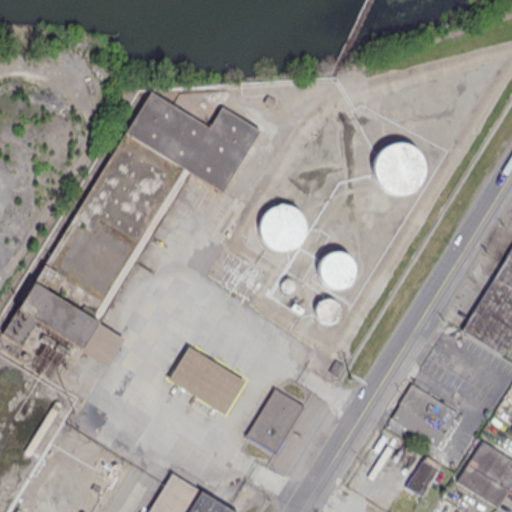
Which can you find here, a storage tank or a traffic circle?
storage tank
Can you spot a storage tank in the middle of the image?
Yes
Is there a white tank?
Yes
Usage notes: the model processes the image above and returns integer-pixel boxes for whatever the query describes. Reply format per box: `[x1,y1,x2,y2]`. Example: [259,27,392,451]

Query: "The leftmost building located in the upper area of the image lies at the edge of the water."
[131,92,258,191]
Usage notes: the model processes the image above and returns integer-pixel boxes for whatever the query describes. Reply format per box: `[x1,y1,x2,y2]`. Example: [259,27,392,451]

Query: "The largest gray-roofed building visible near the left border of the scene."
[3,282,100,347]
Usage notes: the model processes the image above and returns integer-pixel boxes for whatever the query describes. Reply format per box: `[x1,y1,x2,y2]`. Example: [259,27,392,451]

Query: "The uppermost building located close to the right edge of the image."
[462,250,512,361]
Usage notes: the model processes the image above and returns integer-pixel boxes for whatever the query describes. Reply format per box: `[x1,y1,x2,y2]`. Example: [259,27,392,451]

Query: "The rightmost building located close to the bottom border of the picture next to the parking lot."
[456,440,512,506]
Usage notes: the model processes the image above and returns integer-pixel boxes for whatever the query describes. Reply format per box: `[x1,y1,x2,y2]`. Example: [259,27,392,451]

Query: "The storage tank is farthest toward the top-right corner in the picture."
[372,142,428,196]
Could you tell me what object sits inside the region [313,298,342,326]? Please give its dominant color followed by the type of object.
white storage tank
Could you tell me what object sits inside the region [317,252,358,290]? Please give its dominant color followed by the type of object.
white storage tank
